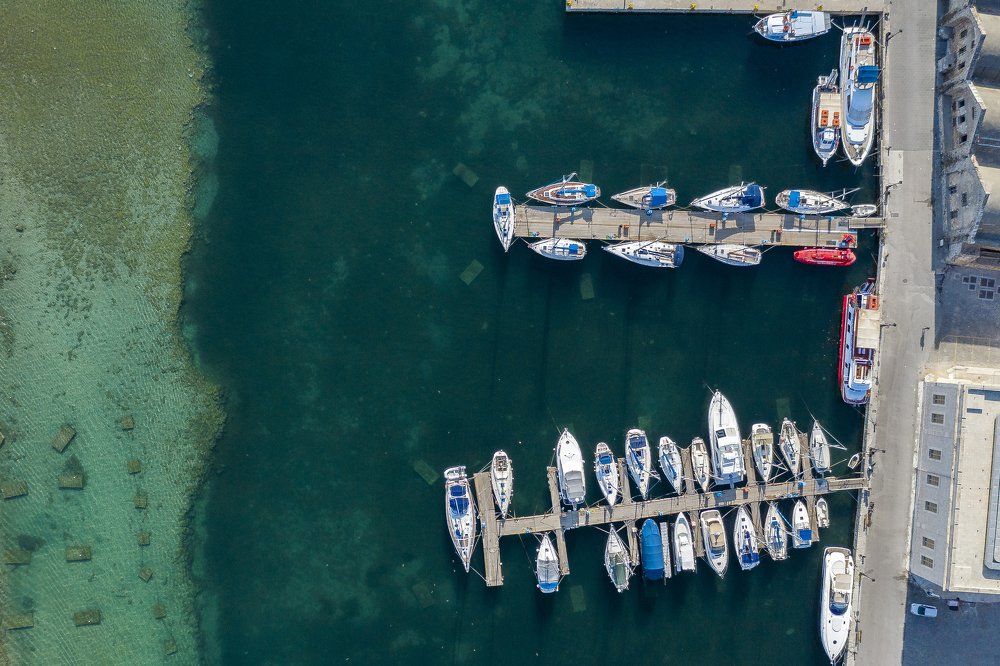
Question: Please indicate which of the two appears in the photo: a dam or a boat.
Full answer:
I can see a boat in this picture.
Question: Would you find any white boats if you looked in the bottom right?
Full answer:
Yes, in the bottom right there is a white boat.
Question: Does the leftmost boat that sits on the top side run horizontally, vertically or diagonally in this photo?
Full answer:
The leftmost boat that sits on the top side is oriented vertically.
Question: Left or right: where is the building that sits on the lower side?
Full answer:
The building that sits on the lower side is on the right side of the image.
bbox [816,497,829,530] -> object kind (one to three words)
boat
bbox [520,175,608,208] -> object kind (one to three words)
boat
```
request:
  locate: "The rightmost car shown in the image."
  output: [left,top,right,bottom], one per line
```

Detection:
[911,603,941,619]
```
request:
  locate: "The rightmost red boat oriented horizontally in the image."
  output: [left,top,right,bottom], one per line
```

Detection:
[792,247,857,266]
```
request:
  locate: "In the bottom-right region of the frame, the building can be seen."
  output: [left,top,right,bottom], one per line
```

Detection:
[911,382,1000,597]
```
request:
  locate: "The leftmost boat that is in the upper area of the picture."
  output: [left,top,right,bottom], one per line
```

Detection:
[492,183,522,252]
